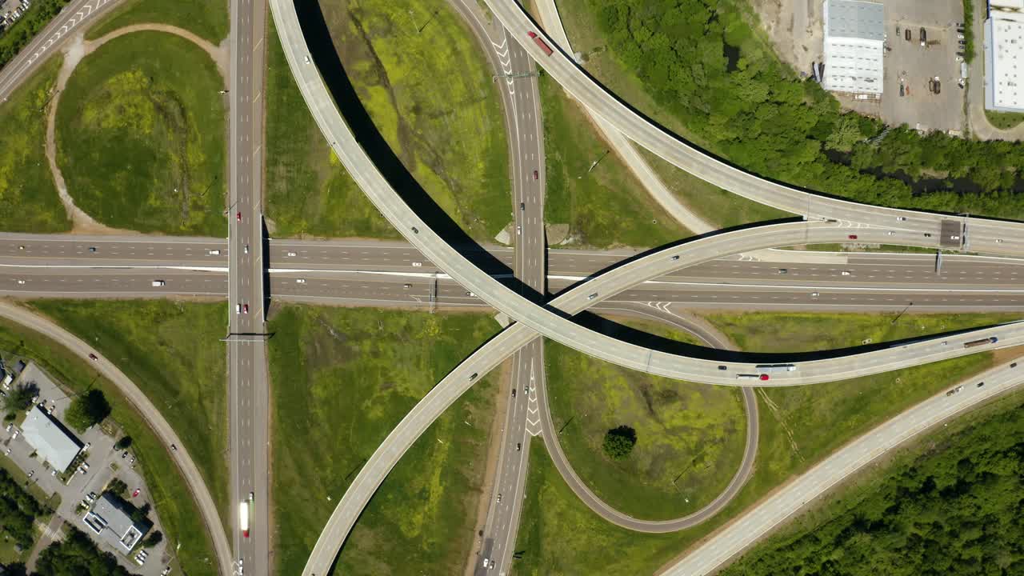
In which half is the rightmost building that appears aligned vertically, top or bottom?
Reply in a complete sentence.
You can find the rightmost building that appears aligned vertically in the top half.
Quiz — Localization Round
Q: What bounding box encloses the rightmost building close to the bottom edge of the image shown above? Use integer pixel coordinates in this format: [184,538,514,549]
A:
[82,491,149,556]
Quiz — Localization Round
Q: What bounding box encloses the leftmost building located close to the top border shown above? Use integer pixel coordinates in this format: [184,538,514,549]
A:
[821,0,884,95]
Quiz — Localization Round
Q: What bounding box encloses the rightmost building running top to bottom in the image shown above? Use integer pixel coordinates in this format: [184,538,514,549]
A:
[980,17,1024,112]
